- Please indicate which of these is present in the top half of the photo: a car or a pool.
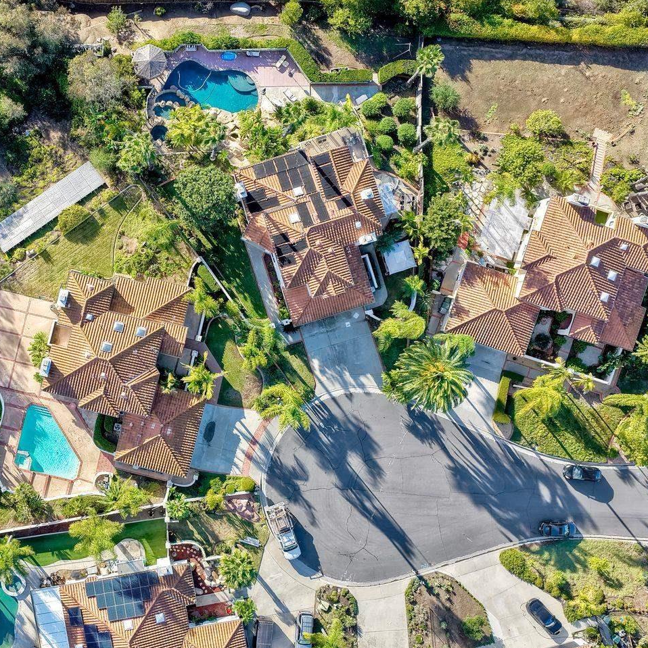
pool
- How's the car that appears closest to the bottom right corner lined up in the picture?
at an angle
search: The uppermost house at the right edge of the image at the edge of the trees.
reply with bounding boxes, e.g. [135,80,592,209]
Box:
[445,191,648,358]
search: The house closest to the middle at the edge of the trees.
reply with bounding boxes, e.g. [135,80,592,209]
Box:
[228,119,390,327]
